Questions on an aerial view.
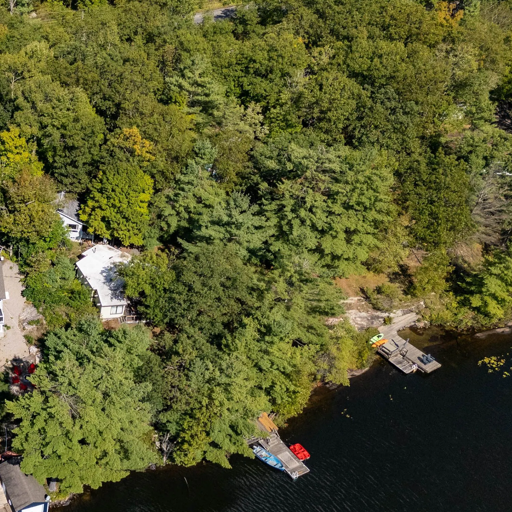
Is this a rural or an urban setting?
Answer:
rural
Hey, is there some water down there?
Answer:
Yes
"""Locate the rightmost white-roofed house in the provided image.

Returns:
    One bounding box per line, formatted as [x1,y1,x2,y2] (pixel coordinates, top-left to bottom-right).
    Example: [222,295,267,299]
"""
[78,244,134,324]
